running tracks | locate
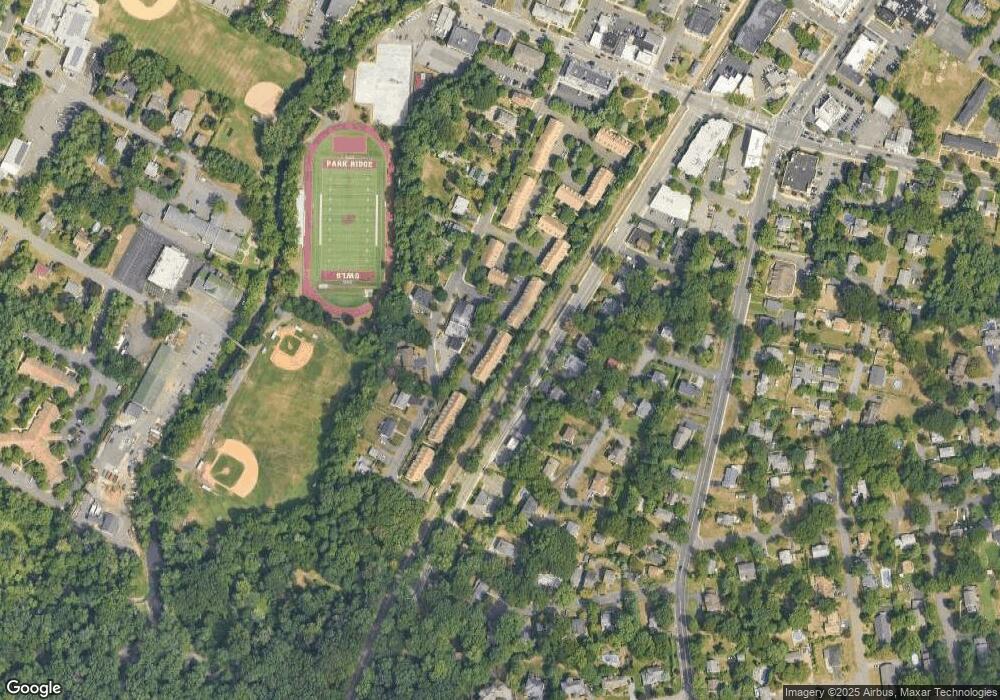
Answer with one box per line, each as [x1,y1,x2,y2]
[304,121,396,317]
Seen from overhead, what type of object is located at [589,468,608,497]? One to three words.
house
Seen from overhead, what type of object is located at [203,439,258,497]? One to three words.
baseball field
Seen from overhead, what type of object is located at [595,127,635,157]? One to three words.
building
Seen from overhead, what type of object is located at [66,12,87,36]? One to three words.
solar array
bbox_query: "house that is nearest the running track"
[410,282,439,309]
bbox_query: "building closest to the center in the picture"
[474,331,513,384]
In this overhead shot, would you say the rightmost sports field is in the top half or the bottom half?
top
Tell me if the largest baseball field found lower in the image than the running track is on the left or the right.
left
